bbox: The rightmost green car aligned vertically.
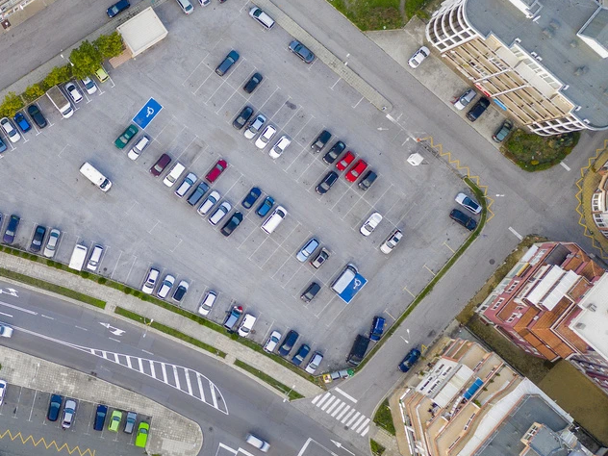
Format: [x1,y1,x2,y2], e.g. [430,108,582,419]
[134,421,149,447]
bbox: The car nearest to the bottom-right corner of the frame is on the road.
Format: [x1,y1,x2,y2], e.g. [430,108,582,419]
[396,347,421,374]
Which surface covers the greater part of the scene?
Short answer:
paved ground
